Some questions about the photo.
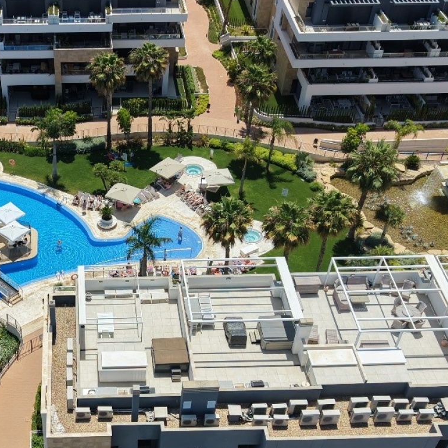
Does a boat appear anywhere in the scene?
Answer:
No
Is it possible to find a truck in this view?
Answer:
No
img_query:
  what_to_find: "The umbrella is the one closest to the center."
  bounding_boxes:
[197,170,238,193]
